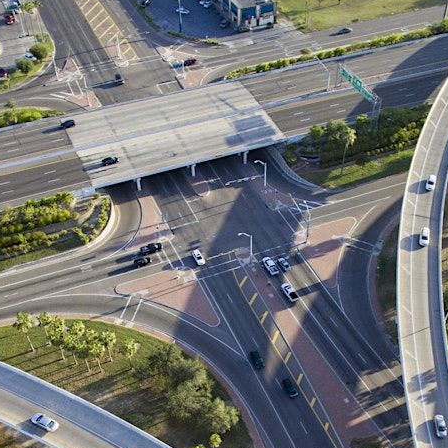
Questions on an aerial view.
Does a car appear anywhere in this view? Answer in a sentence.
Yes, there's a car here.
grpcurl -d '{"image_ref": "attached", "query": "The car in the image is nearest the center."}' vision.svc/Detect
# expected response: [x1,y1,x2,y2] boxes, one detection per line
[193,249,206,264]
